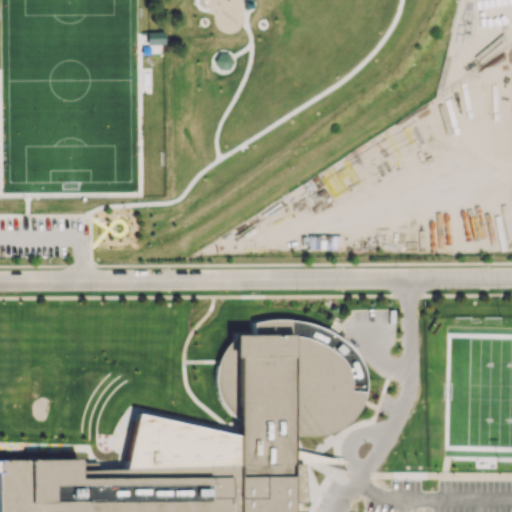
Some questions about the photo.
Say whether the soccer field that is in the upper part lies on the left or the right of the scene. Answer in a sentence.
The soccer field that is in the upper part appears in the left half of the scene.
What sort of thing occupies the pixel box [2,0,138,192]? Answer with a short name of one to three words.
soccer field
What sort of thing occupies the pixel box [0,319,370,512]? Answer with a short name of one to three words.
building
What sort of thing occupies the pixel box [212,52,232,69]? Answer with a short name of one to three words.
gazebo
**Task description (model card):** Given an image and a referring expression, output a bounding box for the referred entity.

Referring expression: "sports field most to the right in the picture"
[445,327,512,456]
